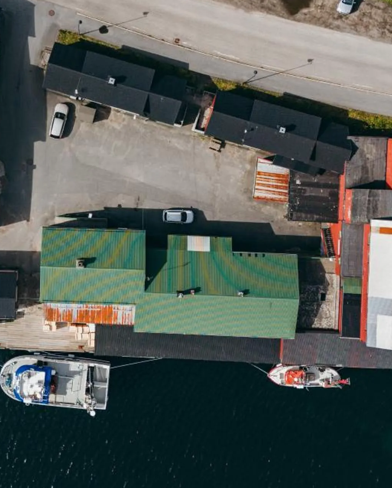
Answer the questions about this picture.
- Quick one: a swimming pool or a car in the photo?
car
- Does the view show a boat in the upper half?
No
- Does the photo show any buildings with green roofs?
Yes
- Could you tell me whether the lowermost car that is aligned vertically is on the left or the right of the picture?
left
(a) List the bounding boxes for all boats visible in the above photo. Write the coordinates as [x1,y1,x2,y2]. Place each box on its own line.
[0,360,110,418]
[270,365,352,394]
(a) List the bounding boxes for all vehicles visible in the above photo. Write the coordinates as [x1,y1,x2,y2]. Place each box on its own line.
[338,0,360,15]
[48,102,68,139]
[161,209,195,225]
